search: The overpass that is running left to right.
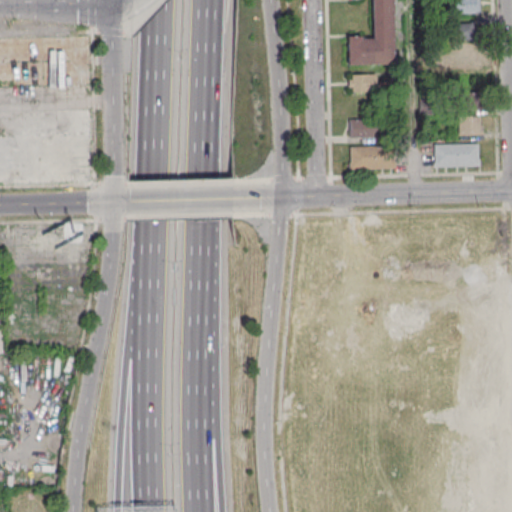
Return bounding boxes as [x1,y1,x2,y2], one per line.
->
[126,178,234,220]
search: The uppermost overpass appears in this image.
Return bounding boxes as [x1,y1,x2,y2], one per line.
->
[124,0,170,37]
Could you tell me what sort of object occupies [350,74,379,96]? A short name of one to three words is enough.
house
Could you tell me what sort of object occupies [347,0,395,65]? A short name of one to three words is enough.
building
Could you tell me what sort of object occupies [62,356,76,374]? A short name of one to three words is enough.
vehicle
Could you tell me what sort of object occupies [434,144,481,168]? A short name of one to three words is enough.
building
